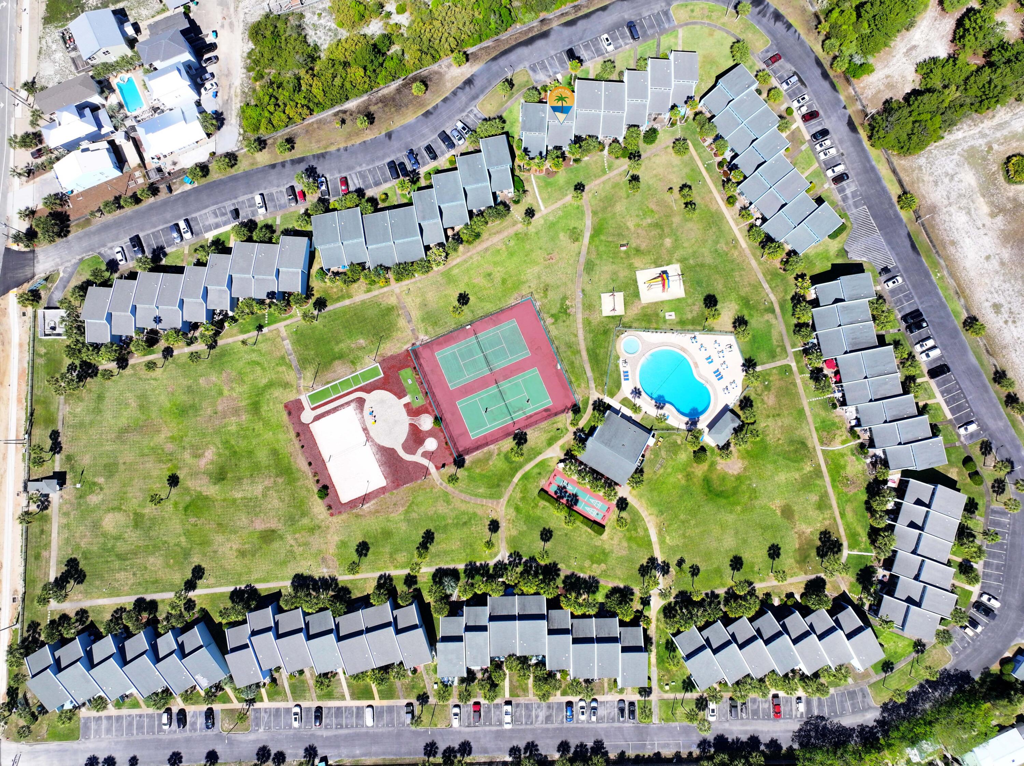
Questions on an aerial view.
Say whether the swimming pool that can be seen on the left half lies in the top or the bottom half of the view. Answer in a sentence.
The swimming pool that can be seen on the left half sits in the top half of the picture.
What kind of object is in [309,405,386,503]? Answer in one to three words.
sports court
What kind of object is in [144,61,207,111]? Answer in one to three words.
house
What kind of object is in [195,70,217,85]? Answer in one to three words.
vehicle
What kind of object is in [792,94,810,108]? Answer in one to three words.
car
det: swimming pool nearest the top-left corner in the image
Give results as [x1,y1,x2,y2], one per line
[115,75,146,113]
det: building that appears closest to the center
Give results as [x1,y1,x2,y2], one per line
[577,410,655,486]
